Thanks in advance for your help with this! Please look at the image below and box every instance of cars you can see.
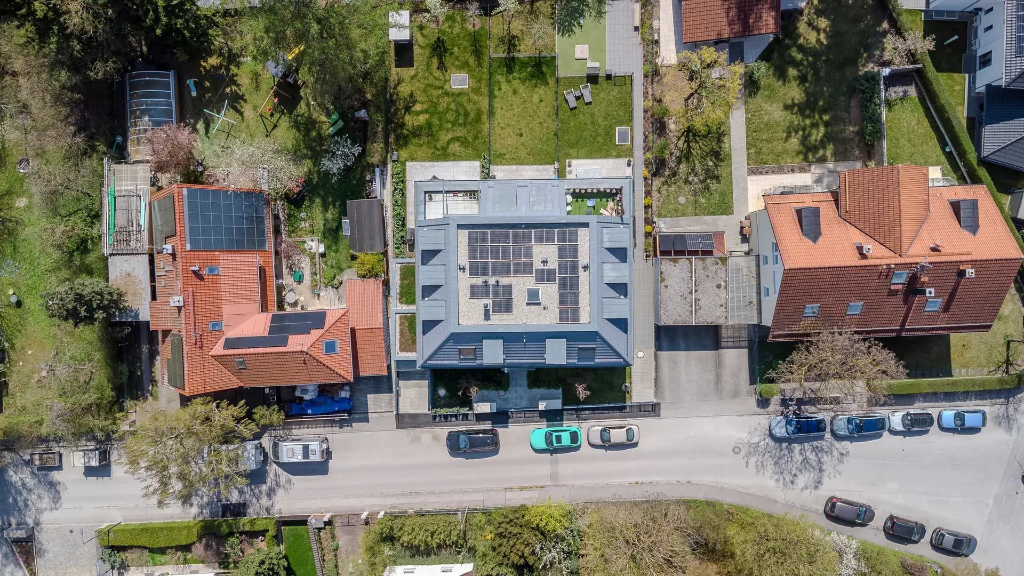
[530,425,582,451]
[446,427,499,454]
[927,525,977,557]
[829,413,887,438]
[587,423,639,447]
[768,414,826,440]
[880,512,926,544]
[886,409,934,433]
[936,408,986,431]
[821,493,874,525]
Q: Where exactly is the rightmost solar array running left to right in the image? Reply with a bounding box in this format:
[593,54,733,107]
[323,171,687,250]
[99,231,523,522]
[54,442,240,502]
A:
[660,233,714,249]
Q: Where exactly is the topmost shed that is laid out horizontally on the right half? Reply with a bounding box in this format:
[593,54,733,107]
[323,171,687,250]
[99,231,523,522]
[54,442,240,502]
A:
[680,0,781,49]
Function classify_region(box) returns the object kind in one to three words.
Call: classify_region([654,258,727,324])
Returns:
building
